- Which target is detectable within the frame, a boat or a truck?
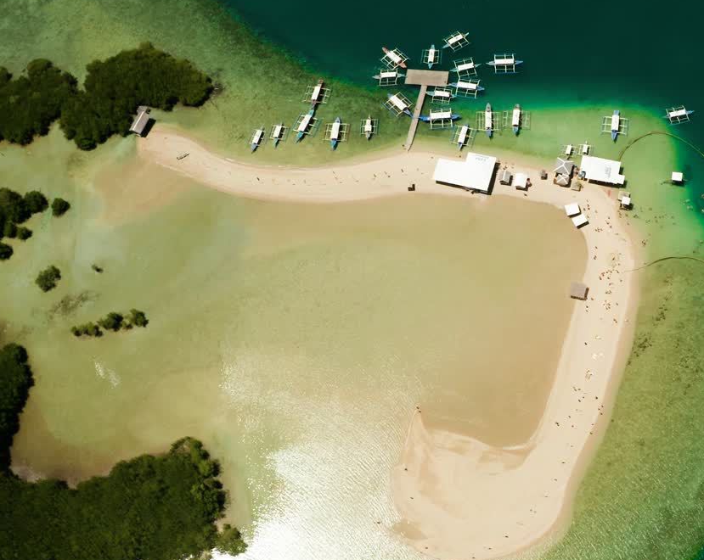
boat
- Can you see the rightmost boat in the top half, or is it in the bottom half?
top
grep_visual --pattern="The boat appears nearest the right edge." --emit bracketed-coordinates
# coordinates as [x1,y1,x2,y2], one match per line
[663,104,693,127]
